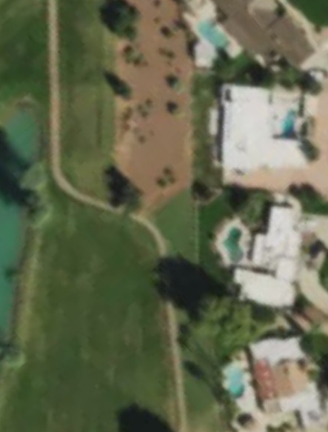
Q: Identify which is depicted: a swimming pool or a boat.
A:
swimming pool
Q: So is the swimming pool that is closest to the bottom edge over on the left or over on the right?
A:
right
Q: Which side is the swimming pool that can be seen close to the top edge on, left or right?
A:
right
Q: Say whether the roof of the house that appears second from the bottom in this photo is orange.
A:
No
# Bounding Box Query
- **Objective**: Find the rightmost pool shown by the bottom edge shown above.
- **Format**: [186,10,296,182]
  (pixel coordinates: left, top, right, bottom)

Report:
[223,357,267,432]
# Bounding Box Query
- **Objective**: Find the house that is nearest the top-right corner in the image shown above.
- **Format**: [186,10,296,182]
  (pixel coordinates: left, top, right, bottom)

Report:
[212,0,325,67]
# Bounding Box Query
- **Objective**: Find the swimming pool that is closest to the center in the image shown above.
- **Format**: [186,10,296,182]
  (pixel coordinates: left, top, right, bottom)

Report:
[214,218,254,268]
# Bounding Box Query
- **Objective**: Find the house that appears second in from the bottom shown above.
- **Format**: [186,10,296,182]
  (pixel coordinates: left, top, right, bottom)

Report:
[235,205,301,307]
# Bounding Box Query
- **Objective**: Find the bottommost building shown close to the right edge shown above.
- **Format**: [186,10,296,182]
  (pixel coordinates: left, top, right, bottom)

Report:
[250,337,321,427]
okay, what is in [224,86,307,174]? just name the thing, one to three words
house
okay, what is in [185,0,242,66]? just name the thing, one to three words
swimming pool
